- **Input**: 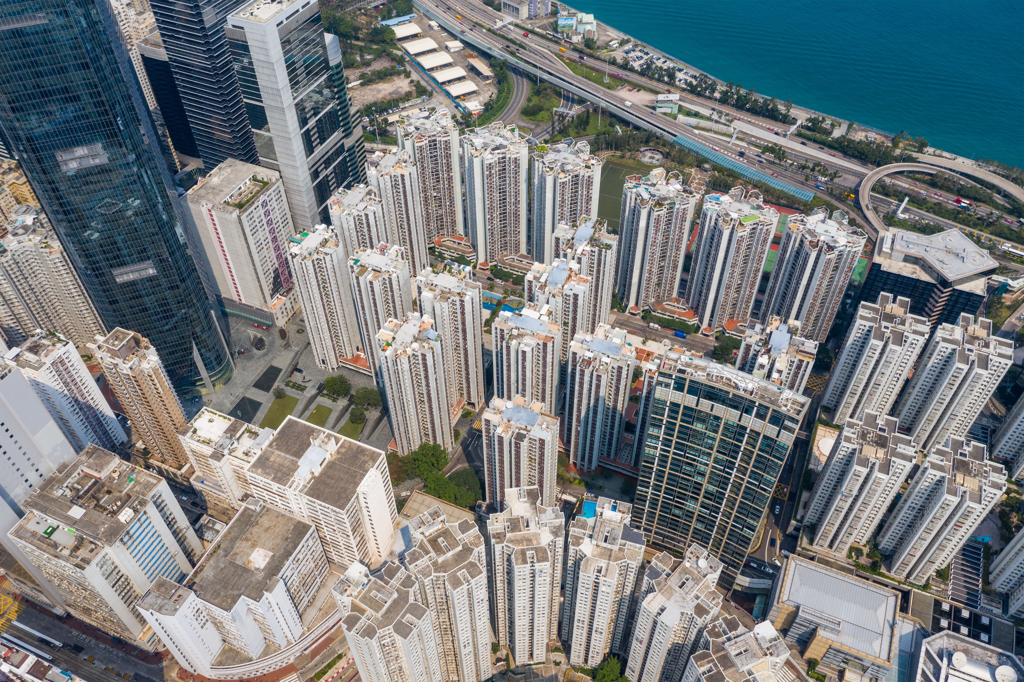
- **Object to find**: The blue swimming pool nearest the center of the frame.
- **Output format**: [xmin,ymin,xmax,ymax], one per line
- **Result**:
[575,497,594,523]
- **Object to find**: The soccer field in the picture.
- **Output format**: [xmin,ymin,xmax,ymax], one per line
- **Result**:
[598,157,690,251]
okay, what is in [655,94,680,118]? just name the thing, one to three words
building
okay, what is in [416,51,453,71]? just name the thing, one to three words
shed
